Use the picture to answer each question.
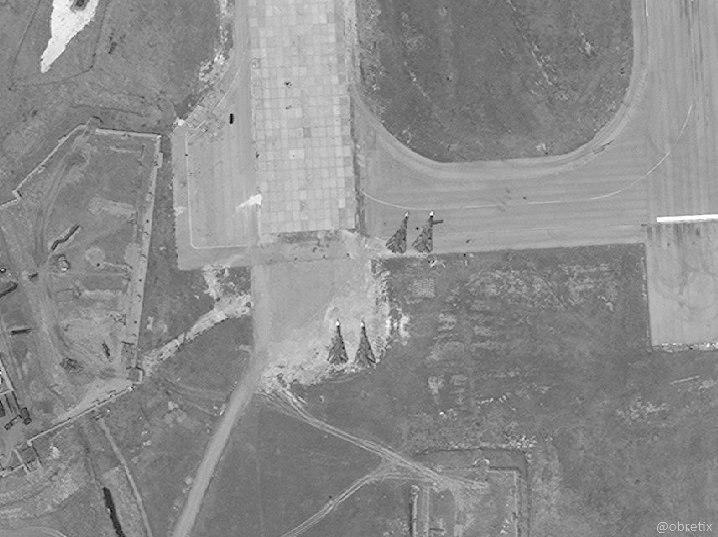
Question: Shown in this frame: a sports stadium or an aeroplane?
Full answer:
This aerial view contains an aeroplane.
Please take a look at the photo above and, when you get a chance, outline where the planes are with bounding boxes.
[413,212,433,254]
[387,214,407,255]
[328,322,348,363]
[355,321,375,364]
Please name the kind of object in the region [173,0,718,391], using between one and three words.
airport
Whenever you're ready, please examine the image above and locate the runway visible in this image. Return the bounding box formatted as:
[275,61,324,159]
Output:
[648,0,718,222]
